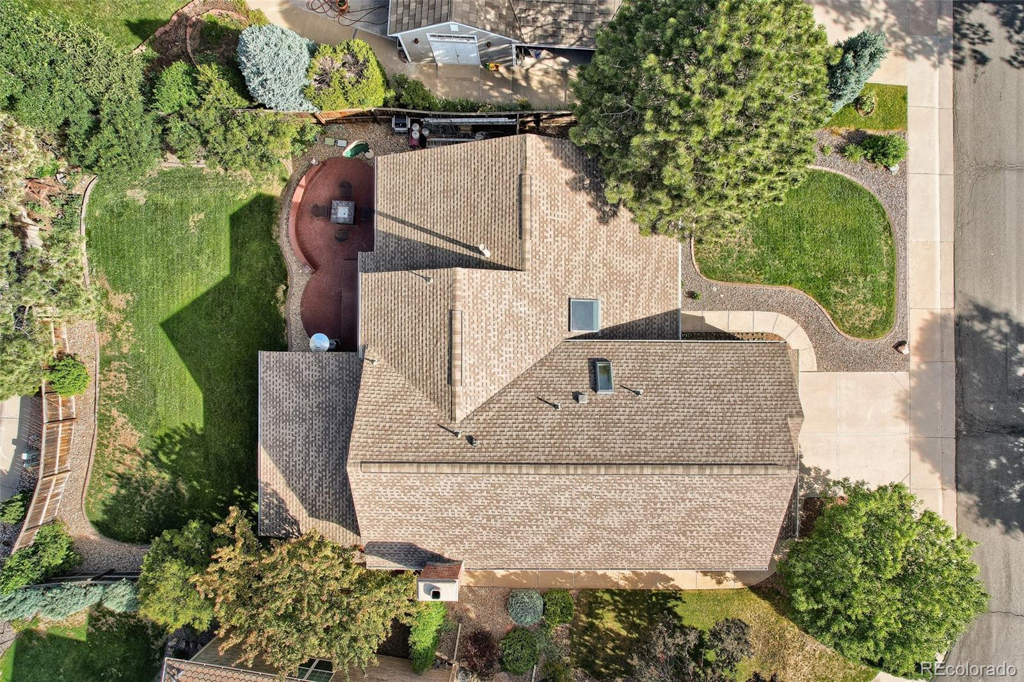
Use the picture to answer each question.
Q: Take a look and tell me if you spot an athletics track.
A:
No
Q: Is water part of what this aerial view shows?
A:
No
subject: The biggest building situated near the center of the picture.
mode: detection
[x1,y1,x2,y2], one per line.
[256,133,807,602]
